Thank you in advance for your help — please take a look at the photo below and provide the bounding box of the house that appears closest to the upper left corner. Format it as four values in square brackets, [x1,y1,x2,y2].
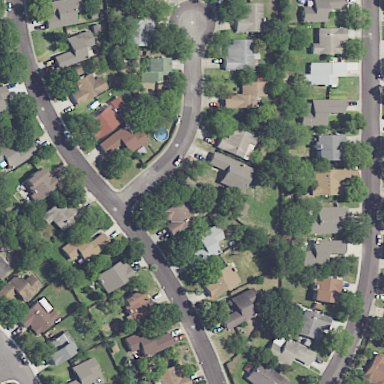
[48,0,80,29]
